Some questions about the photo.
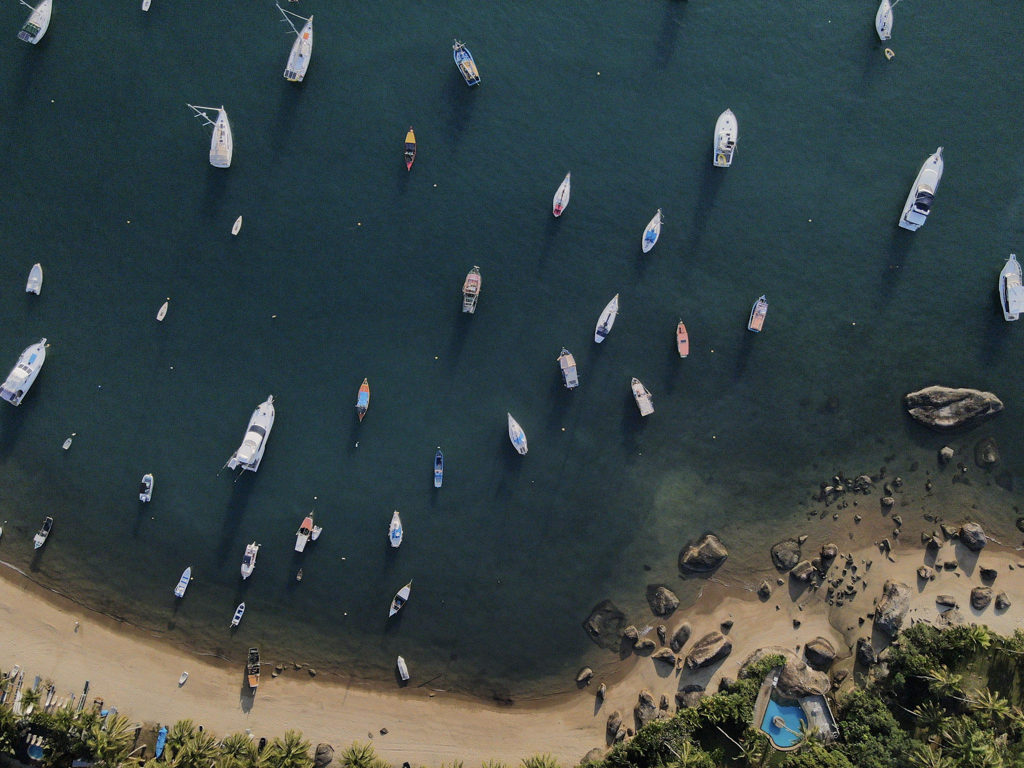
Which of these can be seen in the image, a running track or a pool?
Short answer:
pool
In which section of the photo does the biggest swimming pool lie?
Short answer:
bottom right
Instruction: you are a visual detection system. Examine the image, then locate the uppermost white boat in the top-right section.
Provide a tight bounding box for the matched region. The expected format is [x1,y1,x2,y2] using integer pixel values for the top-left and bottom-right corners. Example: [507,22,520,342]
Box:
[874,0,905,44]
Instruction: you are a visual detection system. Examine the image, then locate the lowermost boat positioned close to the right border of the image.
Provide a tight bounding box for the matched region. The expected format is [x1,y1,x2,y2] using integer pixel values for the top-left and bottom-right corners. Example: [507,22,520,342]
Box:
[996,254,1024,321]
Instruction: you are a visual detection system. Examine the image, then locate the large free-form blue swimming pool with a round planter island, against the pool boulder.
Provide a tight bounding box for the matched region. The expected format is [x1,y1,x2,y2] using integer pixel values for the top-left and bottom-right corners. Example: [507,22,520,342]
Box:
[757,686,809,752]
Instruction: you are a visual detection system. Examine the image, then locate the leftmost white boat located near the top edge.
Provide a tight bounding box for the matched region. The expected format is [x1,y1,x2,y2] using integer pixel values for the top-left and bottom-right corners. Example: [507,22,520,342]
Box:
[10,0,56,46]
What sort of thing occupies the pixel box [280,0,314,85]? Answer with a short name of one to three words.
boat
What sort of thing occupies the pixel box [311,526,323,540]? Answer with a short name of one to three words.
boat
